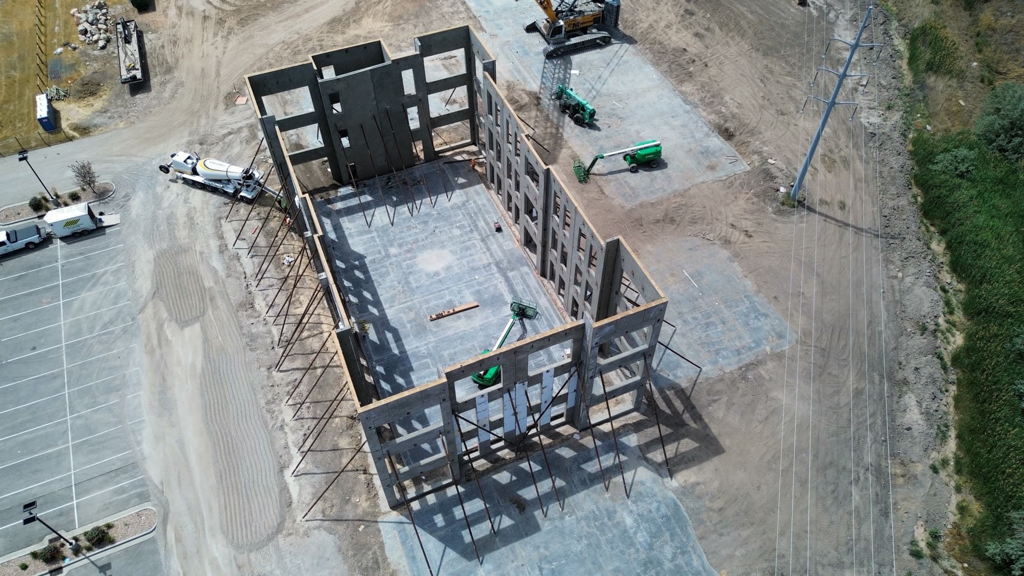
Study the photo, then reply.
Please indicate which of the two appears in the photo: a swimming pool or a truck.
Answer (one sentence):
The image shows a truck.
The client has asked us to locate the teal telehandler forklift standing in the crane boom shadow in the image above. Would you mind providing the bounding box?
[547,89,598,124]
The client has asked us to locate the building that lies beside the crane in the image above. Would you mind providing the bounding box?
[245,24,668,514]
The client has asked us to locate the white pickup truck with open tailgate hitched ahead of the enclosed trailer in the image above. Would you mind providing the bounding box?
[0,227,41,255]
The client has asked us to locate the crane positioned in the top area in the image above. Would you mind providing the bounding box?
[526,0,624,54]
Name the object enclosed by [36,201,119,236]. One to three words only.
trailer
